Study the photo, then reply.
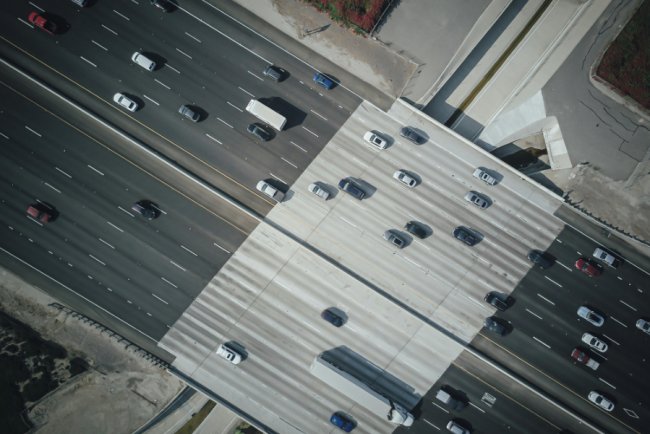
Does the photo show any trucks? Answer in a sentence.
Yes, the frame does contain a truck.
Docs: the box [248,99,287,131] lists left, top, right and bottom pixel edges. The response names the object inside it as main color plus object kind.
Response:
white truck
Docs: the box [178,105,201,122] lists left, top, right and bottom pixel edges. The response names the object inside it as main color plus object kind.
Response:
gray car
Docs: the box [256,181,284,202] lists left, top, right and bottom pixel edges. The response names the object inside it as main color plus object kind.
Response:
white truck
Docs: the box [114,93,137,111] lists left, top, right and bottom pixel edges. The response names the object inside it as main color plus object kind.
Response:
white car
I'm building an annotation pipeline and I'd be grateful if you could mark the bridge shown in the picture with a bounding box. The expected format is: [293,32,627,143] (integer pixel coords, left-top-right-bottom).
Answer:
[159,98,569,434]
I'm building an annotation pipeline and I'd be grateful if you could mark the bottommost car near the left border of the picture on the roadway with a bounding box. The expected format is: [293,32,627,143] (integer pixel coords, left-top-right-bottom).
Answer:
[25,206,51,224]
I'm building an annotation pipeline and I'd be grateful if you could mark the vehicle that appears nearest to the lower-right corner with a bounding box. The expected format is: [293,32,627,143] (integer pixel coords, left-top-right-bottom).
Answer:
[589,391,614,410]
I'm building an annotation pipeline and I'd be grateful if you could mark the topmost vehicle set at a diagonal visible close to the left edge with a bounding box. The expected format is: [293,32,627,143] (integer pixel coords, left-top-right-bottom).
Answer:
[27,12,57,36]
